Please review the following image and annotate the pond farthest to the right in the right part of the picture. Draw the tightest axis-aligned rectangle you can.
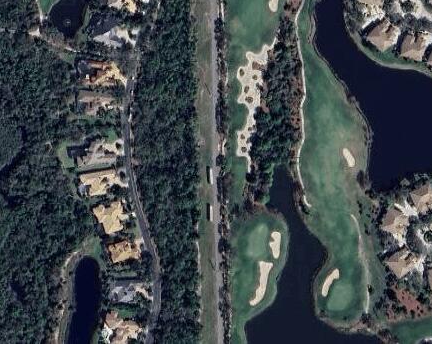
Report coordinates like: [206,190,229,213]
[238,165,390,344]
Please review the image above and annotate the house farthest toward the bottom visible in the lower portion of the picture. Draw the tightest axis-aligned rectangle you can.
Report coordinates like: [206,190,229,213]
[103,312,141,341]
